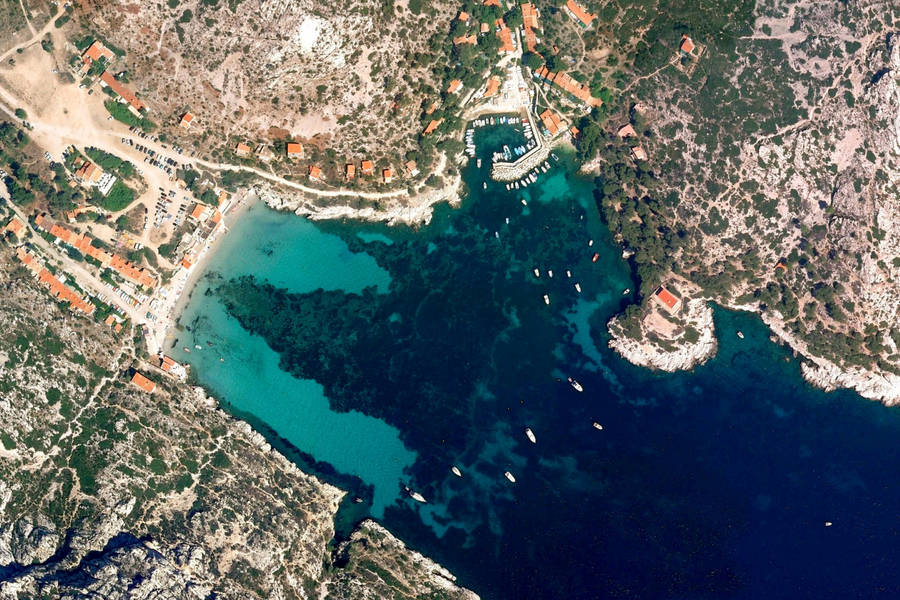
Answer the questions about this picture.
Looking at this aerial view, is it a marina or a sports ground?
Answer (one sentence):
This image shows a marina.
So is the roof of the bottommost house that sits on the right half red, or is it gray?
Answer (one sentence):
The color of the roof of the bottommost house that sits on the right half is red.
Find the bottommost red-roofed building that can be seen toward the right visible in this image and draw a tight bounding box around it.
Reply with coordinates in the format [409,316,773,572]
[654,286,682,311]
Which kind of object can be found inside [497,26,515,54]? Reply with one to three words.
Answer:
house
